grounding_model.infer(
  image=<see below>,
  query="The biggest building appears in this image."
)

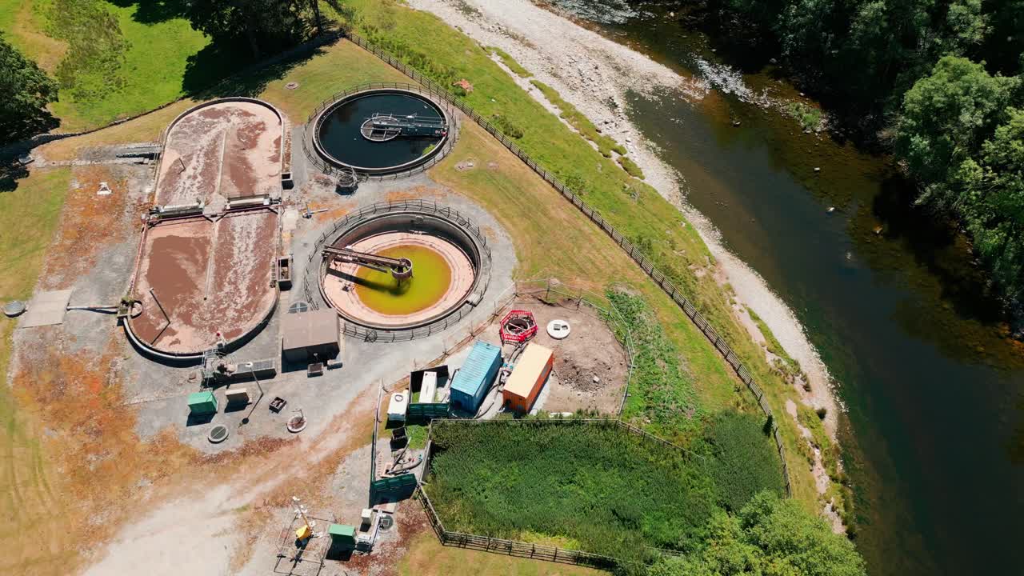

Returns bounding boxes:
[281,309,346,371]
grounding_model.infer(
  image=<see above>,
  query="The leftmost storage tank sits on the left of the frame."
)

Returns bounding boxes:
[118,98,286,365]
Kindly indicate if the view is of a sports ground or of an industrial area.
industrial area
